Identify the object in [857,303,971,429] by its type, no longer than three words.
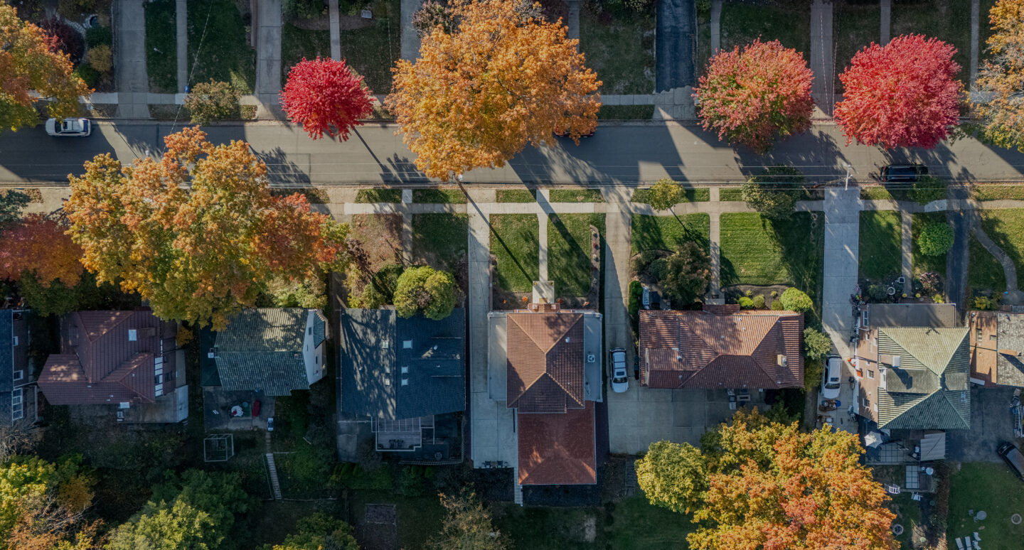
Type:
house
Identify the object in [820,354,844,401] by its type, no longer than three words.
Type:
car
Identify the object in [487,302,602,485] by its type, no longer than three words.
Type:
house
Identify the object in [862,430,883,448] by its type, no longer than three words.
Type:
umbrella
